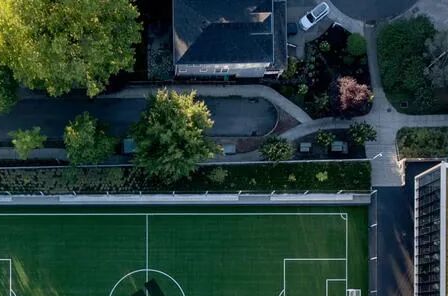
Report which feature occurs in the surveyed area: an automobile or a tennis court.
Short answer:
automobile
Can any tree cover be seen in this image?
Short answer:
Yes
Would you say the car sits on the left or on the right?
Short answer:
right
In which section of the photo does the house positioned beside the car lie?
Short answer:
top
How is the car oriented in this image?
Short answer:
on a diagonal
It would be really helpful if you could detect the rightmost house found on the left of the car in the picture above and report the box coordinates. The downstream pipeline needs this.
[172,0,288,85]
